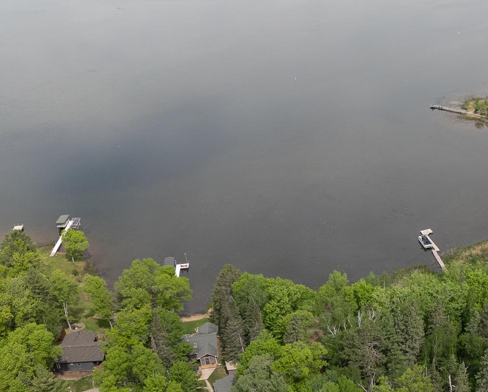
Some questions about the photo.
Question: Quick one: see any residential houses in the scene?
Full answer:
Yes, this view includes a residential house.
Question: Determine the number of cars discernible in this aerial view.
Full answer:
There are no cars in the image.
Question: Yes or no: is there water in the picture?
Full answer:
Yes, there is water in the image.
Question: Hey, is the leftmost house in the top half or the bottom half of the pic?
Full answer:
The leftmost house is in the bottom half of the image.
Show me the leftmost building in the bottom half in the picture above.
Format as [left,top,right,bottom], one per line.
[53,331,108,372]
